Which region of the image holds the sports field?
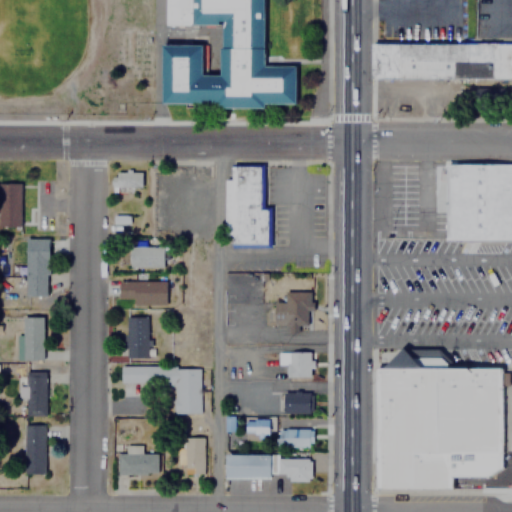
top left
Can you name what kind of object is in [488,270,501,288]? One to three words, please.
vehicle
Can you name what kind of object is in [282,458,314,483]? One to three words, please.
building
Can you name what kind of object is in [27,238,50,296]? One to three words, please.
house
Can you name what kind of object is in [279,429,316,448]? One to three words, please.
house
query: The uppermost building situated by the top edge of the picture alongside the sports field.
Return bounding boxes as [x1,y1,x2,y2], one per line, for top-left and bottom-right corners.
[162,0,297,107]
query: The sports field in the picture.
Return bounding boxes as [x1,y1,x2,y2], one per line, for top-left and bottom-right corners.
[0,0,100,102]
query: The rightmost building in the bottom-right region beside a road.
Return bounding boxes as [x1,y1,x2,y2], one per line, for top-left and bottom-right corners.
[379,350,512,490]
